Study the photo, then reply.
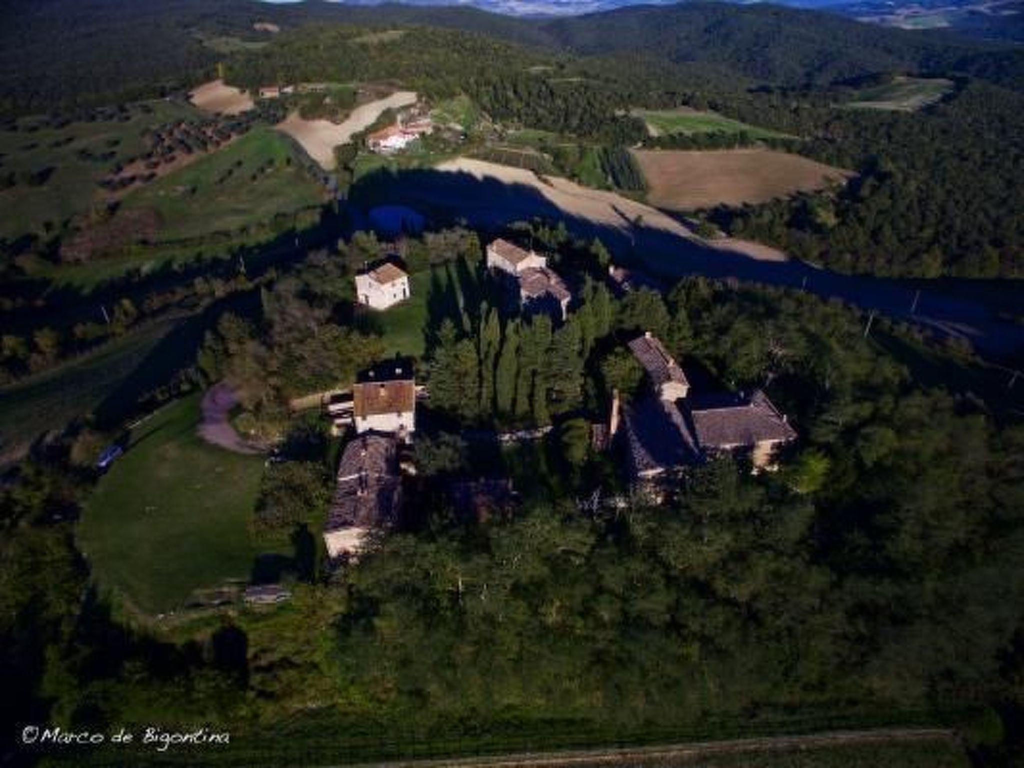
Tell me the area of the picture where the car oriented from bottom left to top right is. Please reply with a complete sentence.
You can find the car oriented from bottom left to top right in the left area of the picture.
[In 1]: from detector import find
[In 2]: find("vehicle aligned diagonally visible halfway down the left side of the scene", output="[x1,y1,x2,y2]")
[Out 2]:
[93,448,125,469]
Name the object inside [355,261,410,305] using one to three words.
house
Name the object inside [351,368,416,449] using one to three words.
house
